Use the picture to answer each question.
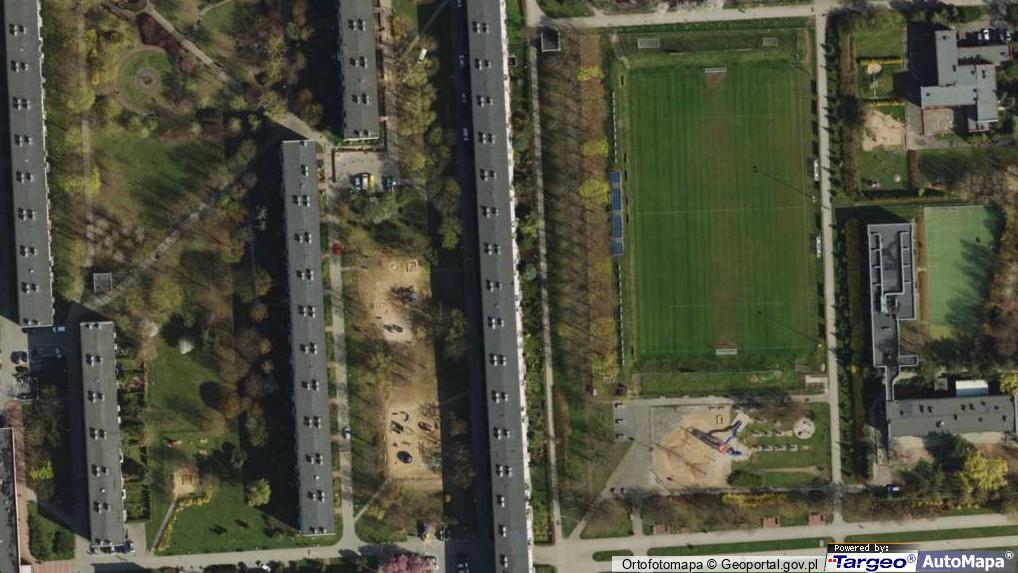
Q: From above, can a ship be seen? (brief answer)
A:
No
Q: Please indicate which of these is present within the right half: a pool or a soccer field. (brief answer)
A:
soccer field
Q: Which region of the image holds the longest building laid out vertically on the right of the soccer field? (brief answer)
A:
right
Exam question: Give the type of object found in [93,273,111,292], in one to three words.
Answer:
house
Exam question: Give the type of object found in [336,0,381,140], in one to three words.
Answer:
building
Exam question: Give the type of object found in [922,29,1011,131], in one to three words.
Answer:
building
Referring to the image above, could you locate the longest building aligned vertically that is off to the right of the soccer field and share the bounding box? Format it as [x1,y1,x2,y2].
[867,223,918,401]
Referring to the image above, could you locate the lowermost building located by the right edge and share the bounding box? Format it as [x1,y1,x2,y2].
[887,395,1015,437]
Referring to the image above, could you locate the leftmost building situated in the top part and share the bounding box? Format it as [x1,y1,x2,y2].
[4,0,56,327]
